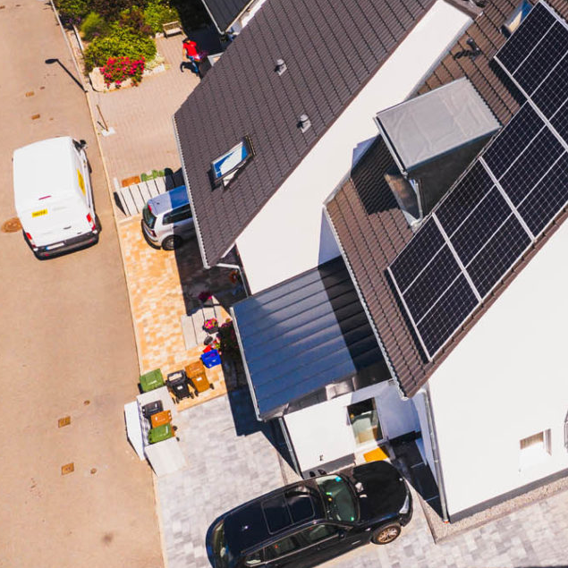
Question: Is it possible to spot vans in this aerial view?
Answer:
Yes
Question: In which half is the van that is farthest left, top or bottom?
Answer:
top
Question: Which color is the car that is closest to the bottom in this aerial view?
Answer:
black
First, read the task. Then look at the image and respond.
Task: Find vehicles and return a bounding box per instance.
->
[132,184,197,249]
[7,130,96,250]
[207,451,410,568]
